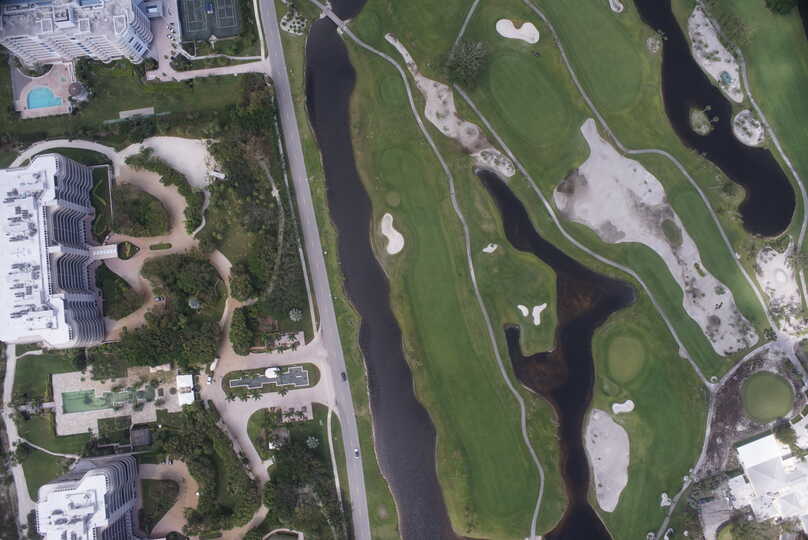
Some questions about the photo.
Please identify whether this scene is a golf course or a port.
golf course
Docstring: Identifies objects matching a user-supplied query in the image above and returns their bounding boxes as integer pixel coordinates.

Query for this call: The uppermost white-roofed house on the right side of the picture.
[733,433,808,516]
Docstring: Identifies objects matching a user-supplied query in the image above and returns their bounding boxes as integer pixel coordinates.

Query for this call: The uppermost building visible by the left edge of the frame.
[0,0,154,67]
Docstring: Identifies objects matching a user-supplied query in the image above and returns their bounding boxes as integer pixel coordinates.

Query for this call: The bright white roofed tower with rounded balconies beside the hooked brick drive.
[37,451,137,540]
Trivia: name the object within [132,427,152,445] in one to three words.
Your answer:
building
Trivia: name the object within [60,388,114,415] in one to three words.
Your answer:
swimming pool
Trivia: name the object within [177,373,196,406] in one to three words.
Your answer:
building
